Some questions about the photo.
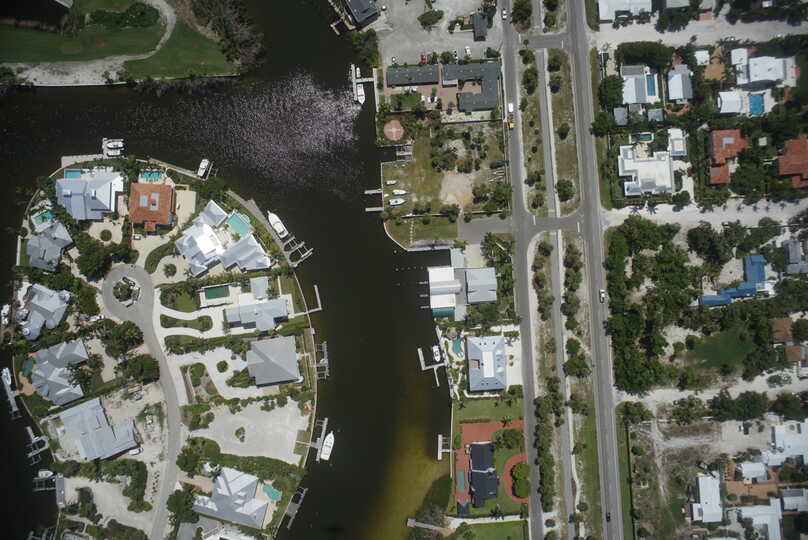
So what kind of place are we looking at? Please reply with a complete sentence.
What you see here is a residential area.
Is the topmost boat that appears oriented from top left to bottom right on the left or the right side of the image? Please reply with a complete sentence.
The topmost boat that appears oriented from top left to bottom right appears in the left half of the scene.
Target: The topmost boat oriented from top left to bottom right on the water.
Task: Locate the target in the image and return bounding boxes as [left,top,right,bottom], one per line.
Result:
[269,214,289,239]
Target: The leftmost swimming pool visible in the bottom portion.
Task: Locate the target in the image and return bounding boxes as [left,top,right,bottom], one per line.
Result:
[21,358,34,377]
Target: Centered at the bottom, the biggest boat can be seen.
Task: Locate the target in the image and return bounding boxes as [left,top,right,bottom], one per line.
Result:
[320,433,333,462]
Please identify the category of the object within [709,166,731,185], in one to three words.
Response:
building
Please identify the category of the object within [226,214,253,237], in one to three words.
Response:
swimming pool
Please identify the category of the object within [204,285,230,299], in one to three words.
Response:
swimming pool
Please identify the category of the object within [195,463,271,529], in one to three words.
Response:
house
